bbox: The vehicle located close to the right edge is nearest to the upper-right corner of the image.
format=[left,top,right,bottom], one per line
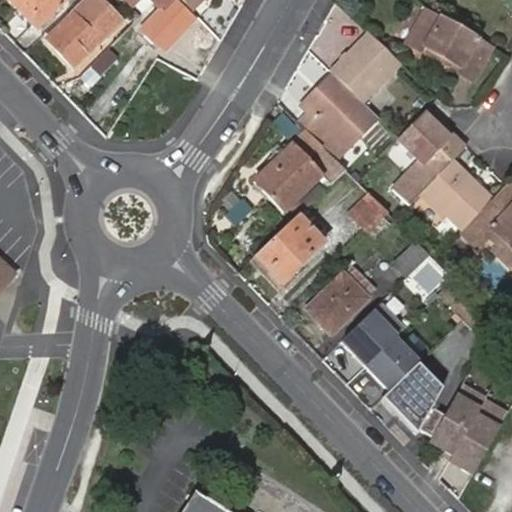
[482,89,500,109]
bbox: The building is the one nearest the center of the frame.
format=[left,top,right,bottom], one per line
[250,212,328,292]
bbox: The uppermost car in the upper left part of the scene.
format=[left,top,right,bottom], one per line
[14,62,33,80]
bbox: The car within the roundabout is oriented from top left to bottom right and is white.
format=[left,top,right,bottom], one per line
[100,157,122,174]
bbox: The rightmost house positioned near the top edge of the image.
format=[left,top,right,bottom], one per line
[424,16,496,84]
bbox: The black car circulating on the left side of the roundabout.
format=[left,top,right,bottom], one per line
[67,172,83,196]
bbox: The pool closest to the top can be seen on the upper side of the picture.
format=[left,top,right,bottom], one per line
[272,111,302,140]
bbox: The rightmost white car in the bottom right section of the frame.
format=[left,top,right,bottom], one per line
[473,471,495,488]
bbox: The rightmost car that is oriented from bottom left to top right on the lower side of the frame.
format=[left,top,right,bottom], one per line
[352,376,372,394]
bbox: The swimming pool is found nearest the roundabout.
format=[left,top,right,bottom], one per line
[226,196,254,224]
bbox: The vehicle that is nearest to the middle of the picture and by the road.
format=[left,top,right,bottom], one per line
[274,330,292,350]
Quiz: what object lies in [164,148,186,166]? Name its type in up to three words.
car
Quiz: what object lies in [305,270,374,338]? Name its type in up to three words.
house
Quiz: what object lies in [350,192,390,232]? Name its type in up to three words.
shed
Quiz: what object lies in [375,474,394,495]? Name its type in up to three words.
car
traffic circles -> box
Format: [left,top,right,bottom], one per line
[60,147,198,297]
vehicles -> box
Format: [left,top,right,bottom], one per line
[336,348,346,368]
[340,26,358,36]
[274,330,292,350]
[110,86,127,106]
[32,82,52,104]
[219,120,238,142]
[67,172,83,196]
[444,507,455,512]
[14,62,33,80]
[473,471,495,488]
[364,425,384,446]
[482,89,500,109]
[100,157,122,174]
[375,474,394,495]
[164,148,186,166]
[115,279,133,298]
[352,376,372,394]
